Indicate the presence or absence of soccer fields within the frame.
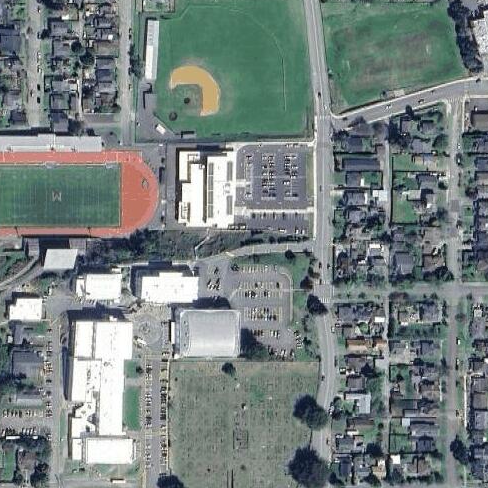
Yes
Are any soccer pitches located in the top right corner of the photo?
Yes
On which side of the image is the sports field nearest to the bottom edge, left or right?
left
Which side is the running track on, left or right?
left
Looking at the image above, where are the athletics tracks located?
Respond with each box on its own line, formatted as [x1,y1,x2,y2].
[0,150,159,237]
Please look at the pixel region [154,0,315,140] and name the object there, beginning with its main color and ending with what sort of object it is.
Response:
green baseball field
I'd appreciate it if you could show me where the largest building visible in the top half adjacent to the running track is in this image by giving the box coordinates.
[178,151,235,228]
